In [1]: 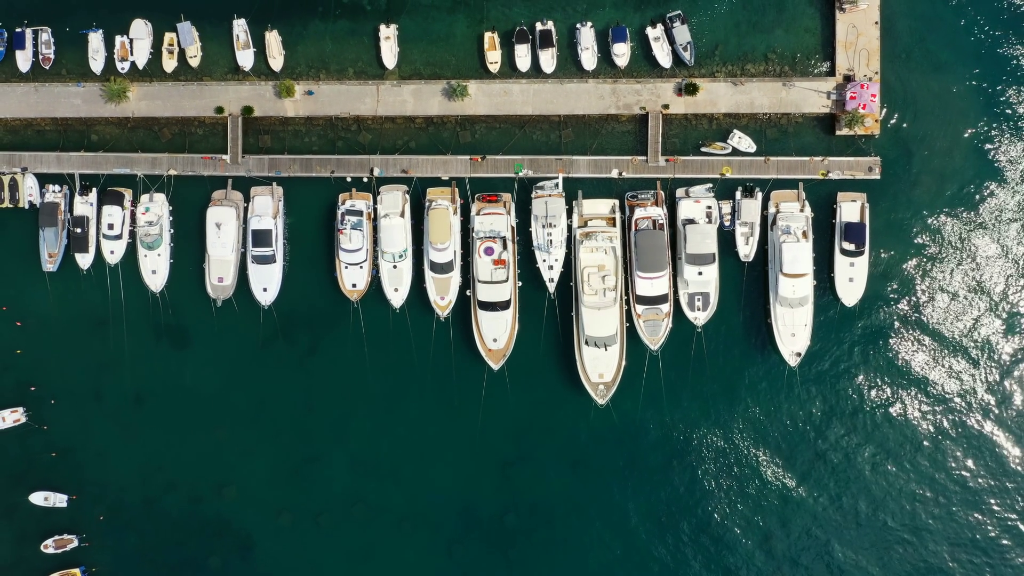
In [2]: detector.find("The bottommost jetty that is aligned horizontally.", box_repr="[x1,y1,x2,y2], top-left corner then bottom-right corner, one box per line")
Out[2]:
[0,153,880,179]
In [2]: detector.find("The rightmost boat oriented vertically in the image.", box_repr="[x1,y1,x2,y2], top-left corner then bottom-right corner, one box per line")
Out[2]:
[831,192,869,307]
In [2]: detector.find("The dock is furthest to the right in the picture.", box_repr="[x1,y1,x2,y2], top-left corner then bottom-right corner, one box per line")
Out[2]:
[831,0,879,135]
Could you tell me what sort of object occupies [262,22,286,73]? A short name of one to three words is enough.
boat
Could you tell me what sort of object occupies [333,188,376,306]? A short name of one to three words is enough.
boat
